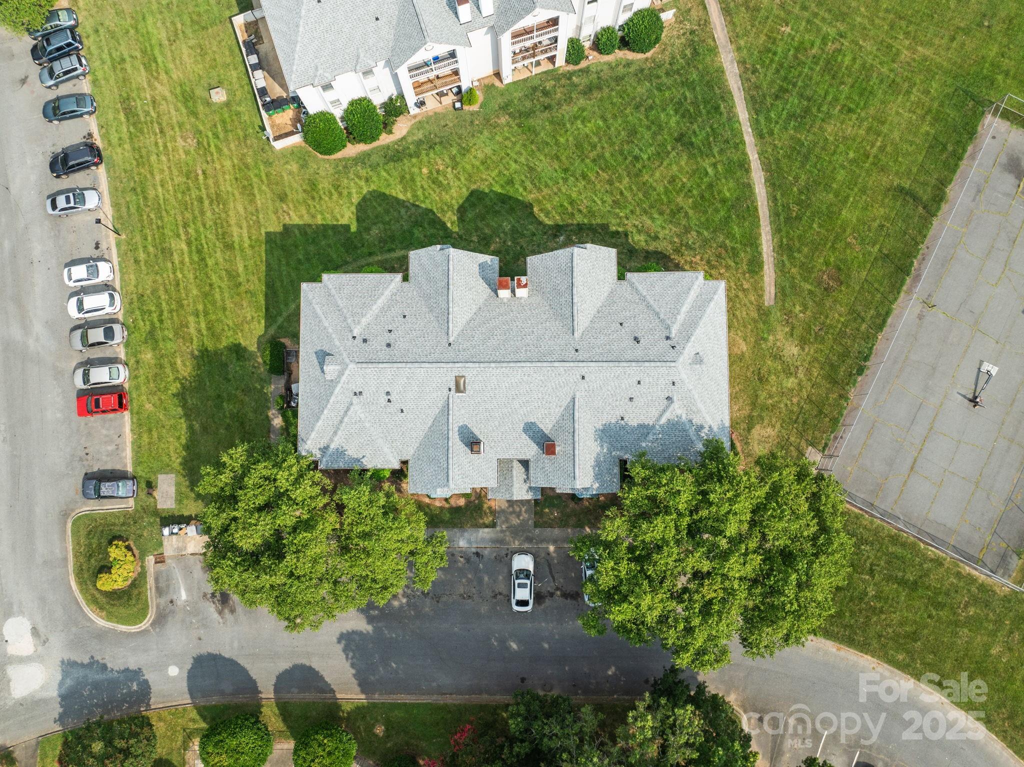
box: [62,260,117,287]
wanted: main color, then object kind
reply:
white car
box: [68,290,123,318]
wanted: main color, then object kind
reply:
white car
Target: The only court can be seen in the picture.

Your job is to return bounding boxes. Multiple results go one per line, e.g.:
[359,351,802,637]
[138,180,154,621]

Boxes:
[821,114,1024,579]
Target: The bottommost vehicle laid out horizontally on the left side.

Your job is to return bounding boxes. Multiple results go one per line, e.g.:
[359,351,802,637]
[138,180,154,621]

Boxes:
[83,476,140,502]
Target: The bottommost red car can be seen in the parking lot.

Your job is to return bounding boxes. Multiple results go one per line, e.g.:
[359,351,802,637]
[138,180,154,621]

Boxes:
[76,392,131,417]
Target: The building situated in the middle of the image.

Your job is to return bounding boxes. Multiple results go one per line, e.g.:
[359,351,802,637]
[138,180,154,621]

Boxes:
[297,246,732,501]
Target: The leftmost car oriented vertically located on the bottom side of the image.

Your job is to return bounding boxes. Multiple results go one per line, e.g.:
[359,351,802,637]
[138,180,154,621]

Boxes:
[509,552,536,613]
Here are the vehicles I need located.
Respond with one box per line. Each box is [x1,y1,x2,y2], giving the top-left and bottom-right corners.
[71,325,130,352]
[68,290,123,318]
[76,364,132,389]
[509,552,536,613]
[44,95,98,124]
[83,476,140,502]
[31,29,85,64]
[62,260,117,287]
[76,392,131,417]
[46,189,104,218]
[29,9,84,41]
[50,145,105,177]
[39,55,92,90]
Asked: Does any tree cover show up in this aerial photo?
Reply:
Yes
